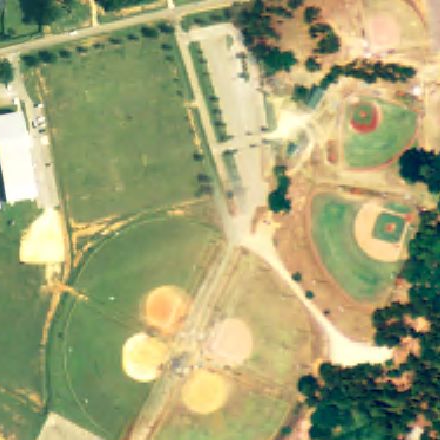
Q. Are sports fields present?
Yes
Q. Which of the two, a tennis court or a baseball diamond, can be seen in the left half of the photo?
baseball diamond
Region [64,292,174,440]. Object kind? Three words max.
baseball field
